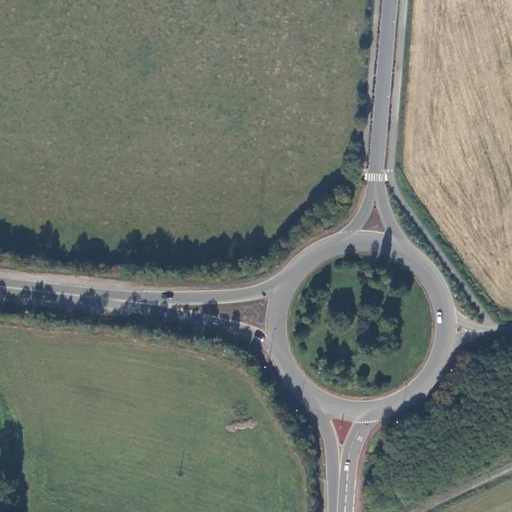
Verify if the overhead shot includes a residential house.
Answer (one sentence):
No, the scene contains no residential house.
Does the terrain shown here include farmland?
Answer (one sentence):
Yes, some farmland is visible.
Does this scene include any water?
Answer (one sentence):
No, there is no water in the image.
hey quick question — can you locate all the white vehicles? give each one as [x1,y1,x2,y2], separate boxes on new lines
[436,312,442,324]
[344,460,350,472]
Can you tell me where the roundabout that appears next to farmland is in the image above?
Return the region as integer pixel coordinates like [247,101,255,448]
[266,230,456,422]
